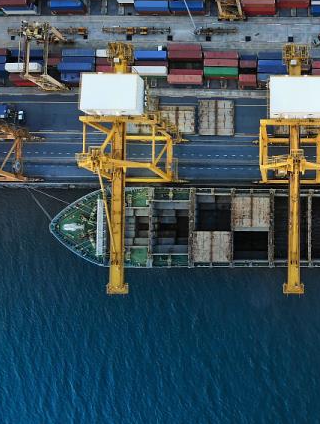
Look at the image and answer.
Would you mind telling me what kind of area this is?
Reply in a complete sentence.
The area seen from above is a port.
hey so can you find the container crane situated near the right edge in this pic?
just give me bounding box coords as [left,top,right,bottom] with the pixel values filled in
[248,40,320,299]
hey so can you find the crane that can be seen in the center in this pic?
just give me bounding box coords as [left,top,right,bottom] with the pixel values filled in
[80,40,190,299]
